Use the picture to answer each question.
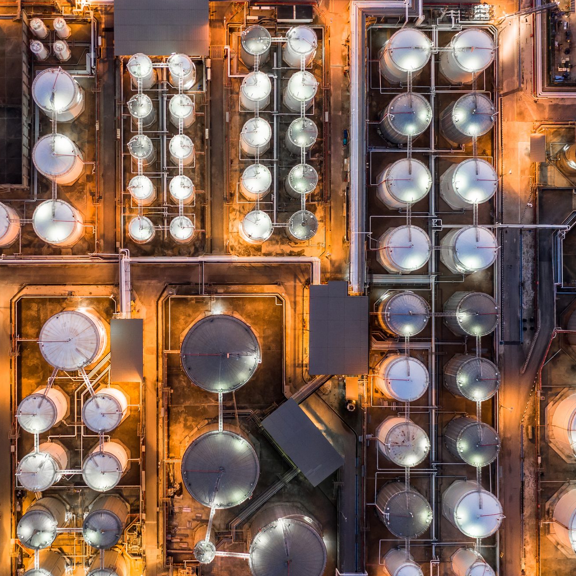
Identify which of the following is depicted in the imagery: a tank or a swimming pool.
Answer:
tank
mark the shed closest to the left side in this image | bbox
[110,318,145,381]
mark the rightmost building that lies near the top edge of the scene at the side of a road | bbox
[277,5,313,24]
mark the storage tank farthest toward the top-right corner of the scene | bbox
[440,26,497,84]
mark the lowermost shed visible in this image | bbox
[261,399,344,486]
